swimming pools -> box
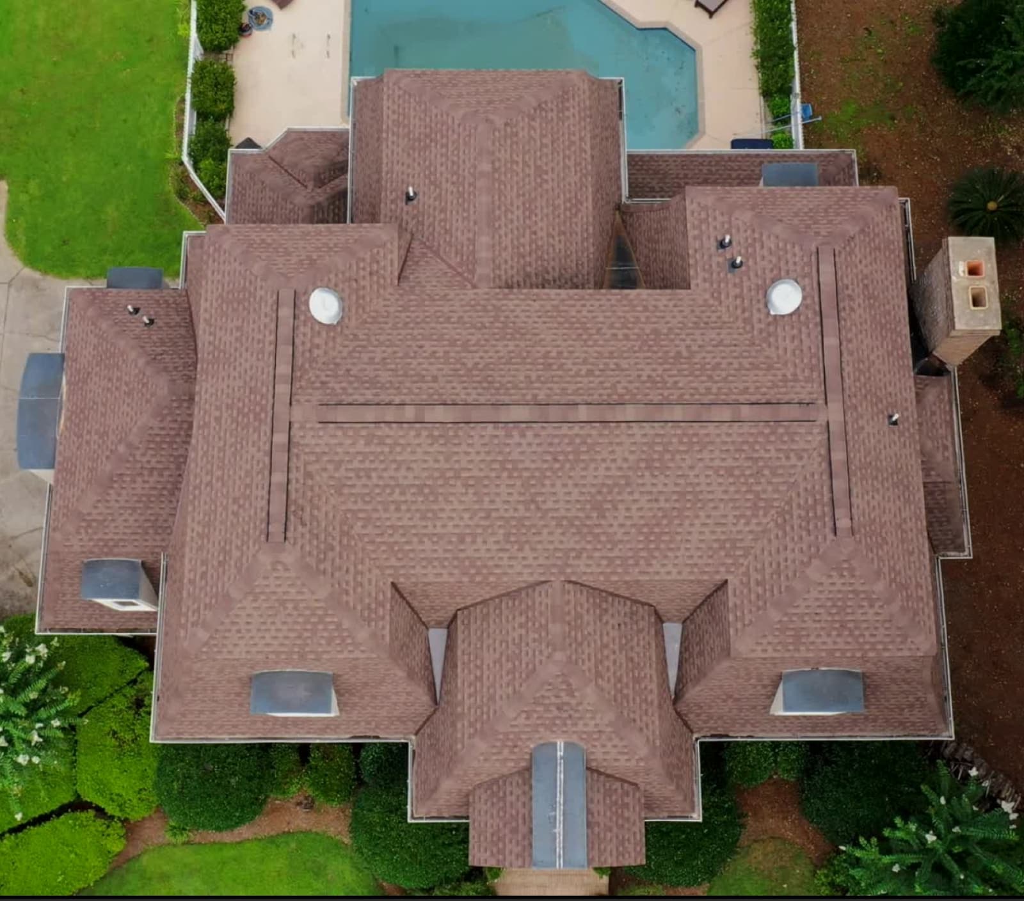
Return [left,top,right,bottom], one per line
[349,0,698,150]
